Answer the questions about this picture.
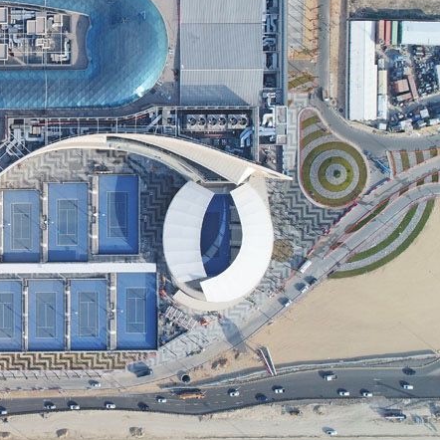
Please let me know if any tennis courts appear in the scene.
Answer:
Yes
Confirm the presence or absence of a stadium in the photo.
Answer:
Yes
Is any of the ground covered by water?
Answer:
No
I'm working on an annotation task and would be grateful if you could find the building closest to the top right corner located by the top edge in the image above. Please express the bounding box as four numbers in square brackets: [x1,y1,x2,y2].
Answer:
[398,21,440,45]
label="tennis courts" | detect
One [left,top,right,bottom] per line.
[0,278,24,352]
[24,278,67,353]
[44,181,89,262]
[95,173,141,255]
[66,278,110,353]
[114,271,160,353]
[0,189,41,262]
